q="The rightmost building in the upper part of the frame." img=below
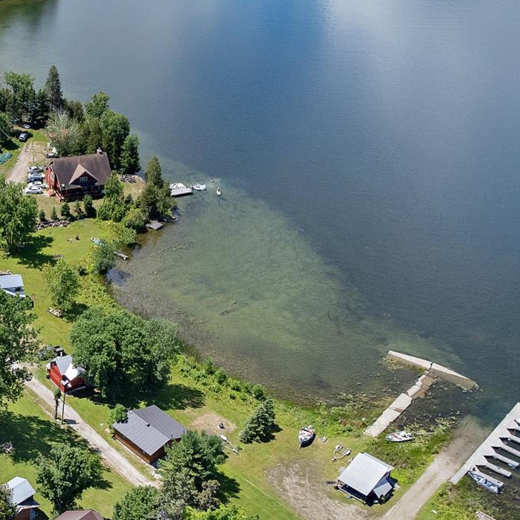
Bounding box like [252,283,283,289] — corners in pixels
[46,145,116,205]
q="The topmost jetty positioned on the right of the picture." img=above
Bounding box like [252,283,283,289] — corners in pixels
[365,351,476,437]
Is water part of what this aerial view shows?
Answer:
Yes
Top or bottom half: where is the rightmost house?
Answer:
bottom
